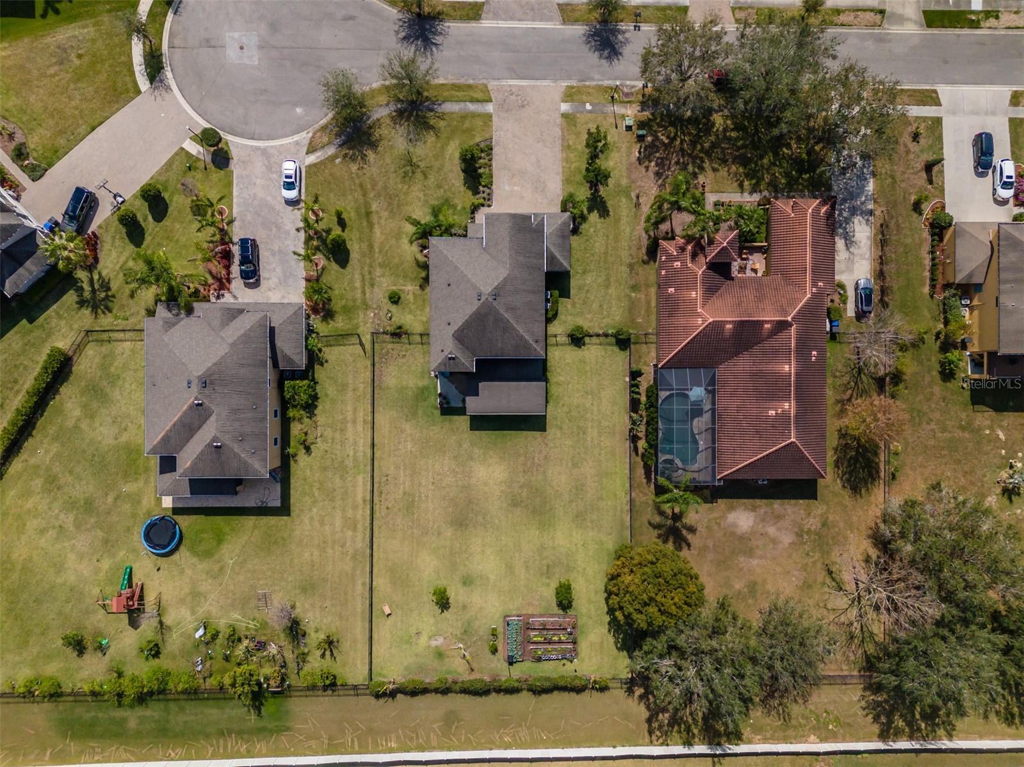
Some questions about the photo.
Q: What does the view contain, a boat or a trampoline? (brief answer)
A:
trampoline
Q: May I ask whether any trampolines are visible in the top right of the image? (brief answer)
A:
No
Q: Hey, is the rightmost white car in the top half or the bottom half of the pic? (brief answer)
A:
top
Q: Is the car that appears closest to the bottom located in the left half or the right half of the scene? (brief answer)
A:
right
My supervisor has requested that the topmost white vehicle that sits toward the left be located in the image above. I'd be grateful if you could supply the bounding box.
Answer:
[279,161,302,204]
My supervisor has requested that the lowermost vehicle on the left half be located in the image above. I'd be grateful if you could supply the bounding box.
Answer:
[235,240,259,284]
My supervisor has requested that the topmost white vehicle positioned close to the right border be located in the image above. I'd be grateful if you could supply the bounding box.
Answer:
[988,159,1014,202]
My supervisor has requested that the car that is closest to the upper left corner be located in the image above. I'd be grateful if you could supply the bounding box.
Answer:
[62,181,98,232]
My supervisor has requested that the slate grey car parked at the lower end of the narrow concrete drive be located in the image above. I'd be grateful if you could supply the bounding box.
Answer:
[850,278,875,323]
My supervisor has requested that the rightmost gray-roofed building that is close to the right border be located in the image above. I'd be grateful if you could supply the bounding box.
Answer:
[943,221,1024,358]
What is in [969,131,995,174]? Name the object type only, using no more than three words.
car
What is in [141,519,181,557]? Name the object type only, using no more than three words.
trampoline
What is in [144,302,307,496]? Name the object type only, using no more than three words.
house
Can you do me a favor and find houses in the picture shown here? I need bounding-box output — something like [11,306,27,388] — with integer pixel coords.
[144,302,307,496]
[943,221,1024,358]
[0,183,68,303]
[658,194,837,479]
[429,209,570,388]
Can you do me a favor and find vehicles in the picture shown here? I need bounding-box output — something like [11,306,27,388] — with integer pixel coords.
[988,159,1014,202]
[969,131,995,174]
[235,240,259,284]
[279,161,302,204]
[62,181,98,232]
[850,278,875,323]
